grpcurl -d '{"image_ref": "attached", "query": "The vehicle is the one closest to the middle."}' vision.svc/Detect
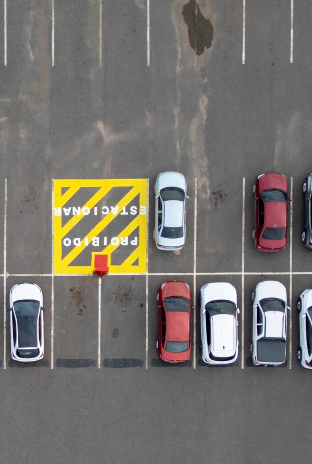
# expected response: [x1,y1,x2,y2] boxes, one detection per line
[151,171,192,251]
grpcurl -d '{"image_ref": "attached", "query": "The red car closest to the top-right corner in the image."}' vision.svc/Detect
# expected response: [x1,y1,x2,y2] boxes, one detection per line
[251,172,293,252]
